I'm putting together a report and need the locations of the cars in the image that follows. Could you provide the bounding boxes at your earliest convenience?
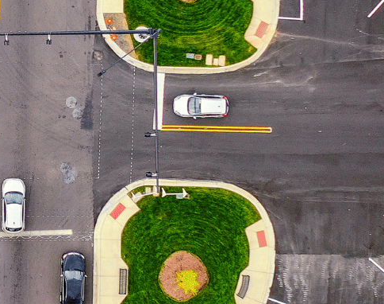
[171,91,229,120]
[0,177,28,234]
[58,252,87,304]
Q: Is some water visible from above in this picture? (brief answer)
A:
No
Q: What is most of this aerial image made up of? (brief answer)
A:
paved ground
